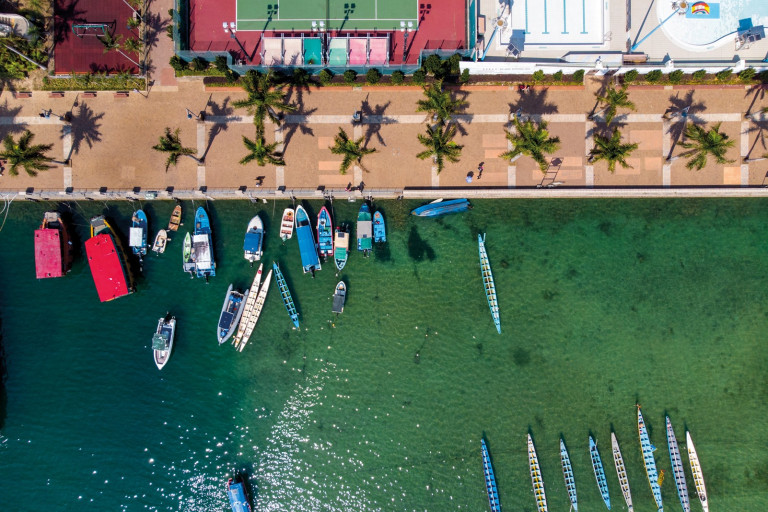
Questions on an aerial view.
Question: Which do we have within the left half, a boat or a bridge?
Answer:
boat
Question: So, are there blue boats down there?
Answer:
Yes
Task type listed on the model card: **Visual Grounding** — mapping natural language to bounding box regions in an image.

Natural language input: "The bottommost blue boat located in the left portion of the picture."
[228,472,252,512]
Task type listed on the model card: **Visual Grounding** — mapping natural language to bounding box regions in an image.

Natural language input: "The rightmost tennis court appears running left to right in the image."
[180,0,469,68]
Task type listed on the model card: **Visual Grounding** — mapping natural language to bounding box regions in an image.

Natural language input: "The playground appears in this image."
[49,0,145,77]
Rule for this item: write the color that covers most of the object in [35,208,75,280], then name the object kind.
red boat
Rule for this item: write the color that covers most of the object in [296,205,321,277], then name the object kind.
blue boat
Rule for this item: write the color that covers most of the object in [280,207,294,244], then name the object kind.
white boat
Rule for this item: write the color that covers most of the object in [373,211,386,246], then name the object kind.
blue boat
